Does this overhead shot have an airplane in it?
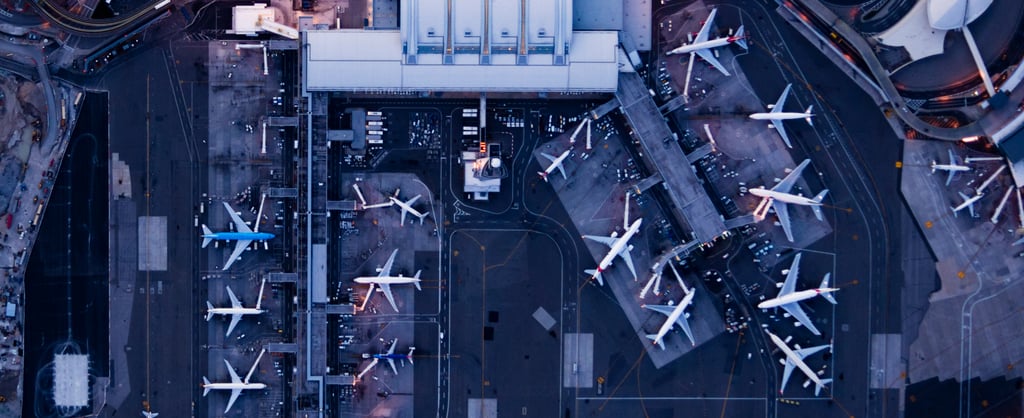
Yes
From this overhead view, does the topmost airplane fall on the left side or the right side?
right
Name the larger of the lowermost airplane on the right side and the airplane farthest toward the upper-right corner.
the lowermost airplane on the right side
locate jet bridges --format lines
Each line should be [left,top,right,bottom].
[586,118,591,150]
[624,191,630,228]
[570,116,590,143]
[362,201,395,210]
[686,53,695,98]
[703,123,715,149]
[256,276,267,311]
[263,46,270,77]
[359,284,375,310]
[234,43,268,50]
[356,356,380,378]
[640,271,658,299]
[254,191,268,233]
[991,187,1014,221]
[653,272,662,295]
[975,164,1007,195]
[758,199,776,221]
[352,182,367,206]
[757,198,770,219]
[669,259,689,294]
[245,346,268,384]
[261,120,268,154]
[964,156,1005,162]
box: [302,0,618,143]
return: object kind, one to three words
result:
building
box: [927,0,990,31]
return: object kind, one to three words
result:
building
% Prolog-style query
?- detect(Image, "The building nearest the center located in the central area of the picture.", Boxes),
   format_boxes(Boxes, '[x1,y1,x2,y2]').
[462,142,509,199]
